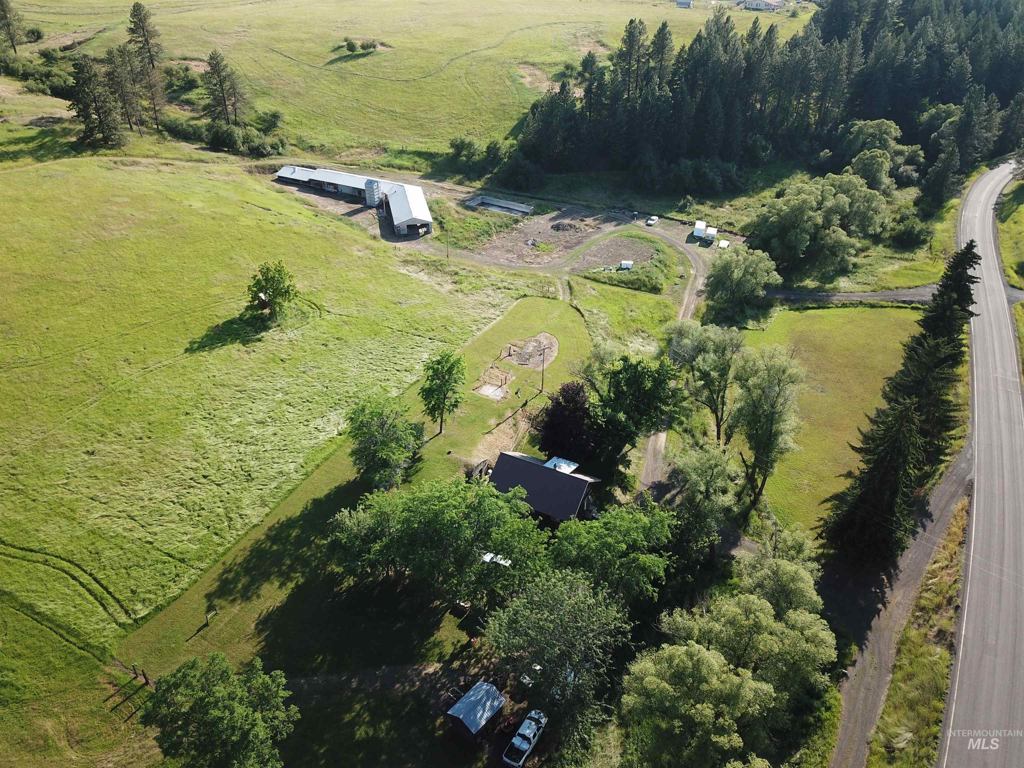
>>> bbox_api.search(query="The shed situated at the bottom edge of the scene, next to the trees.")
[447,682,505,746]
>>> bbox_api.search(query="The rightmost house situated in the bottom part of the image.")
[487,451,601,529]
